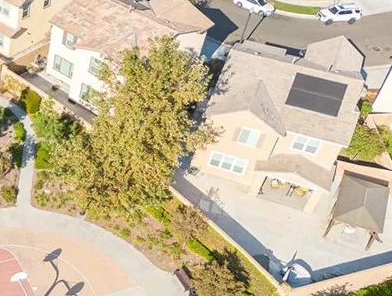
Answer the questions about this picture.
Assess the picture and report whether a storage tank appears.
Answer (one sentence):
No, there's no storage tank here.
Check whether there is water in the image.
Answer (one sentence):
No, no water is visible.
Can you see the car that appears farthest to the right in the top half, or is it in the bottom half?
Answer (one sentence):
It is in the top half that the car that appears farthest to the right appears.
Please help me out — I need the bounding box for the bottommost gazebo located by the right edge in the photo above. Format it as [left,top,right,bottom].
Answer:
[324,177,390,254]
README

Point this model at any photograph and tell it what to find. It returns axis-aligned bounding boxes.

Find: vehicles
[320,2,366,25]
[235,0,276,16]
